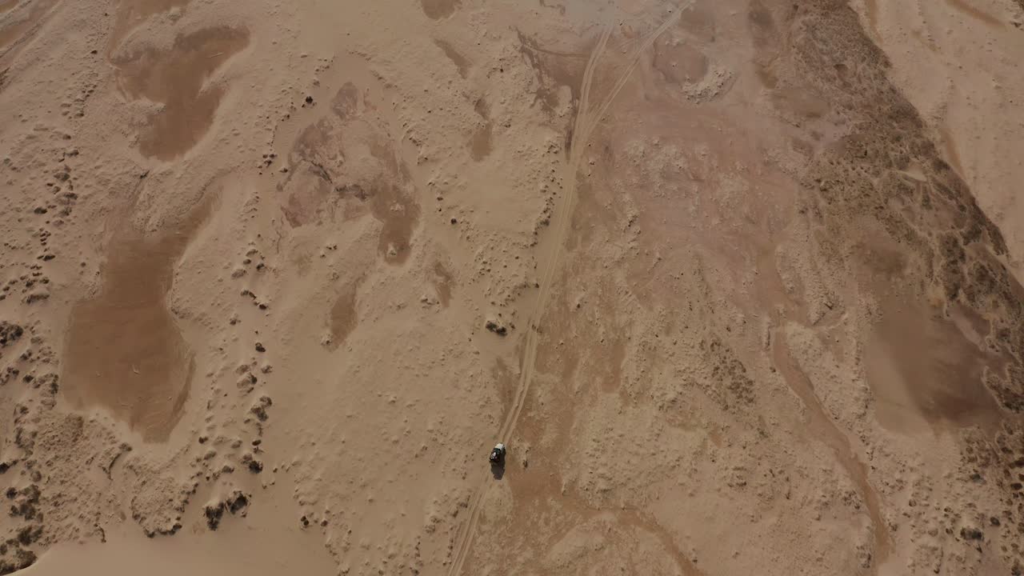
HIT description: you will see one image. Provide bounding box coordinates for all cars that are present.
[489,443,505,464]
